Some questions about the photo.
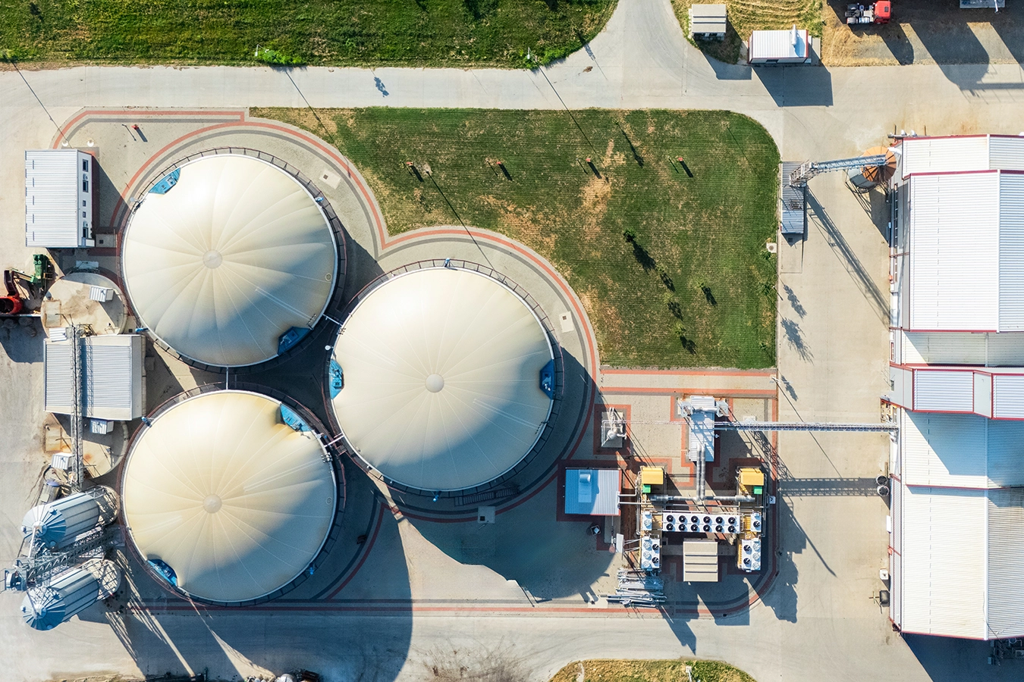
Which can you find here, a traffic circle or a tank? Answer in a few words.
tank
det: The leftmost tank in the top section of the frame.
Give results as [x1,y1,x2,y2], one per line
[116,146,349,375]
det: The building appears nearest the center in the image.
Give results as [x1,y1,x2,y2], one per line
[565,466,621,516]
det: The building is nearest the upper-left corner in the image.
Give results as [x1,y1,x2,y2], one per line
[25,150,98,248]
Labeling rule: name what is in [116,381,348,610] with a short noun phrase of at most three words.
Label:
storage tank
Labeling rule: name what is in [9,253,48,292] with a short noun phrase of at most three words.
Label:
work vehicle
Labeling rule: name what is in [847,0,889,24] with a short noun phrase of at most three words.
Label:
truck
